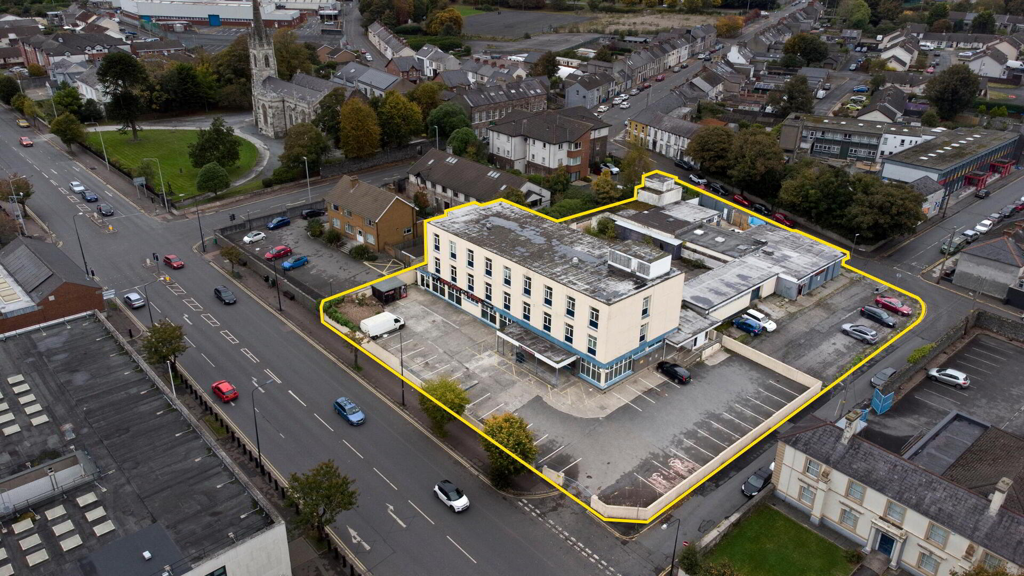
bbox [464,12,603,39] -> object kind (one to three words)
sports field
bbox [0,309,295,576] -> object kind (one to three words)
building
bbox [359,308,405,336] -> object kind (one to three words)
van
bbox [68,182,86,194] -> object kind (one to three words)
vehicle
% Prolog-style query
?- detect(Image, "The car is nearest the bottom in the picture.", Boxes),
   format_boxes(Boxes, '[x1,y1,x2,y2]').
[431,480,472,517]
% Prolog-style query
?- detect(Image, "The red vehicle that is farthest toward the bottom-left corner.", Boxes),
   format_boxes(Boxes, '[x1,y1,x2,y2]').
[208,383,239,407]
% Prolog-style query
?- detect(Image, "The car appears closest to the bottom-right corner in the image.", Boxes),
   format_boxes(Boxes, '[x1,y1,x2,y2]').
[933,364,976,387]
